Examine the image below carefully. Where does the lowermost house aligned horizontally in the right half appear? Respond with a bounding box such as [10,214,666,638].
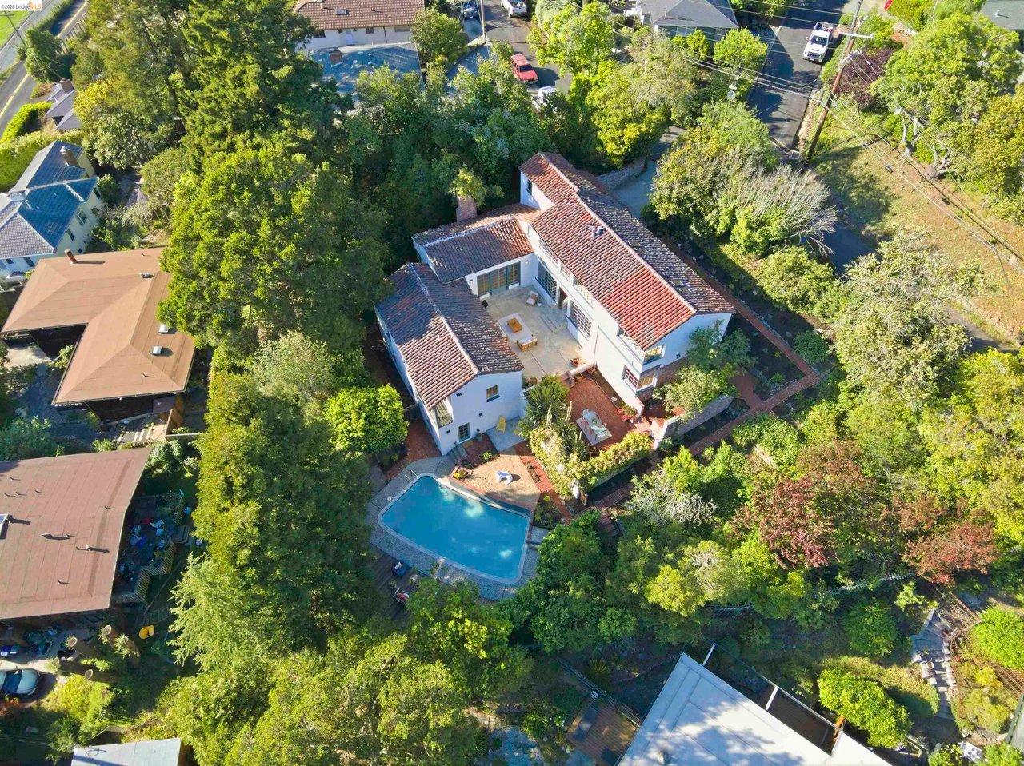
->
[615,642,893,766]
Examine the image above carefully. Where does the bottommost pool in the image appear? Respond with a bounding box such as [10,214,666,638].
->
[383,473,529,579]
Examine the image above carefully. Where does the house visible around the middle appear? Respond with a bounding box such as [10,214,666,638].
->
[370,145,739,460]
